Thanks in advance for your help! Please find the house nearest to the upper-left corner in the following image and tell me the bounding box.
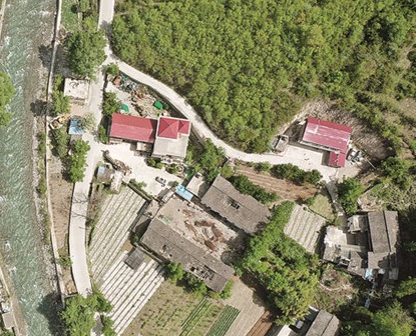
[64,78,90,102]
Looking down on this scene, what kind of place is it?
residential area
